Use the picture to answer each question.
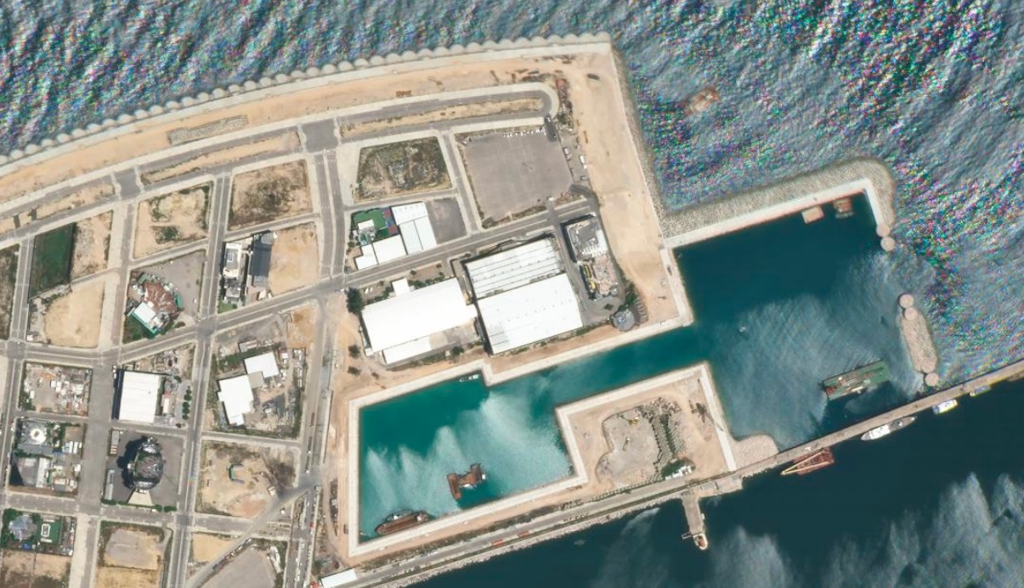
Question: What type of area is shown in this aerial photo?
port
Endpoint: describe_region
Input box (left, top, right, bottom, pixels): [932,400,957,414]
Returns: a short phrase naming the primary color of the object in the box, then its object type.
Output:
white vessel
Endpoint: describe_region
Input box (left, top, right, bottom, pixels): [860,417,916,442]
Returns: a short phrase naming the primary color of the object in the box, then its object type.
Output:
white ship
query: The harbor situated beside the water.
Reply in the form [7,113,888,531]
[349,239,737,556]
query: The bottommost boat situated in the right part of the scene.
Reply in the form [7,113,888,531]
[693,533,706,551]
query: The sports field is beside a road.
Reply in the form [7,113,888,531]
[354,207,398,241]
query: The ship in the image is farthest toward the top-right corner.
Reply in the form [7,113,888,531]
[833,197,853,218]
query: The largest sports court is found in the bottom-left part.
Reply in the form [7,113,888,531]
[40,519,62,545]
